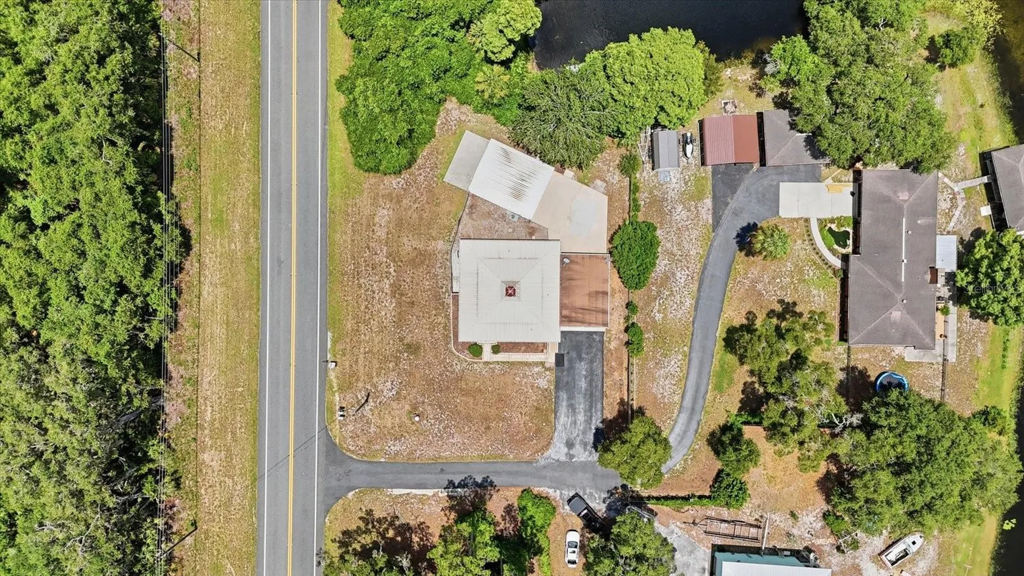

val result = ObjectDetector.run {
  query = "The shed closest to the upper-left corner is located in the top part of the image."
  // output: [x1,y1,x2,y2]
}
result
[469,139,554,219]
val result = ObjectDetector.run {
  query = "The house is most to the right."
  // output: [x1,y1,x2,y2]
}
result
[984,144,1024,231]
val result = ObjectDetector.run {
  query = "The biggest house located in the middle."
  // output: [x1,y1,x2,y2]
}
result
[458,238,609,344]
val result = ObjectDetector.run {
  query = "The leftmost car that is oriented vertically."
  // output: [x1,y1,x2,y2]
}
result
[564,530,581,570]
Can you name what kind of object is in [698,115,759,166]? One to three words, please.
barn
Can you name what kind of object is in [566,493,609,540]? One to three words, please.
truck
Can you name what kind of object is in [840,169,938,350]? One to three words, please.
house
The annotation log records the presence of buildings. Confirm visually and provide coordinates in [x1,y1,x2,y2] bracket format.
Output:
[714,550,831,576]
[458,238,609,344]
[984,144,1024,231]
[469,139,554,219]
[760,109,832,166]
[840,169,938,350]
[698,115,759,166]
[651,130,679,171]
